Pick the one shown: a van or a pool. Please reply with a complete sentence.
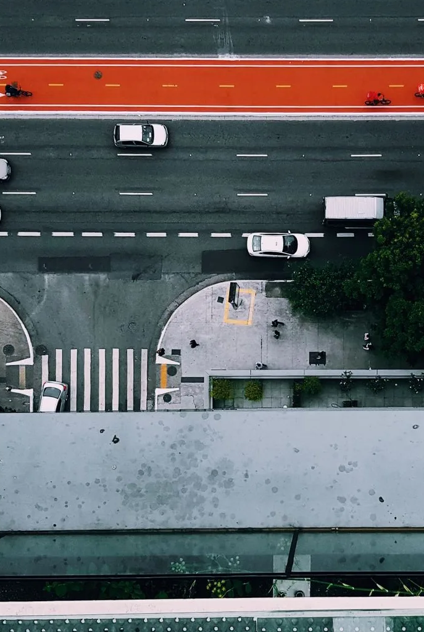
The image shows a van.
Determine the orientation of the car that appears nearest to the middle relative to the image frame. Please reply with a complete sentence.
The car that appears nearest to the middle is laid out from left to right.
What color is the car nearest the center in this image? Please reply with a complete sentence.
The car nearest the center is white.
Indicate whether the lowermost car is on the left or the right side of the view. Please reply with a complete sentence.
It is on the left.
